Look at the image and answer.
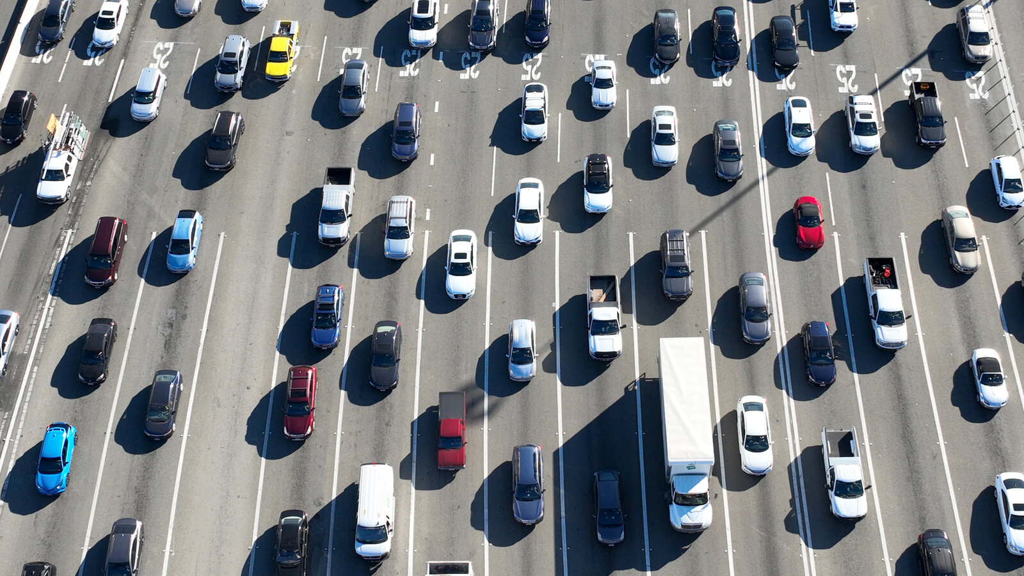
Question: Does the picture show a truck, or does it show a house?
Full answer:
This aerial view contains a truck.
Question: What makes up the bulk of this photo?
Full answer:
For the most part, this view shows paved ground.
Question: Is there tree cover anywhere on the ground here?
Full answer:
No, there's no tree cover in this view.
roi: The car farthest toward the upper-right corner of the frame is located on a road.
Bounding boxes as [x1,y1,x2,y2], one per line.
[954,8,994,64]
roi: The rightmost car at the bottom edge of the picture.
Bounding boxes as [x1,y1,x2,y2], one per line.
[991,474,1024,556]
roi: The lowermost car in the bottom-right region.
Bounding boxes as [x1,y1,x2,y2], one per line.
[915,527,959,576]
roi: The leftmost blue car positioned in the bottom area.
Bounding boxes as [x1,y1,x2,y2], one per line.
[33,424,81,496]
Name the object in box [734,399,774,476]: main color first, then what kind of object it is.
white car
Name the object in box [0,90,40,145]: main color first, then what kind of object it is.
black car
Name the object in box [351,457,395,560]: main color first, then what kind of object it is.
white van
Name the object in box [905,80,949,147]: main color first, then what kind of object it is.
black truck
